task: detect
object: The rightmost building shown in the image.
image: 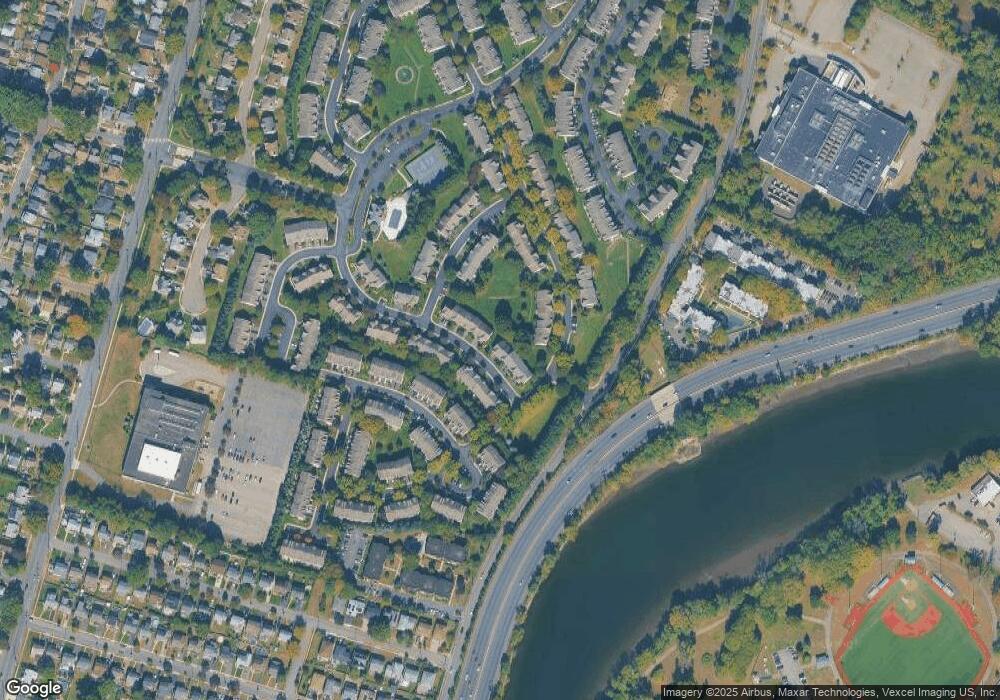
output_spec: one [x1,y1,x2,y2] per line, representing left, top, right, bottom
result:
[972,474,1000,506]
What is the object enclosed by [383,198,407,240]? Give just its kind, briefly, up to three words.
swimming pool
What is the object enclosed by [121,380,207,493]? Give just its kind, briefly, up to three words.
building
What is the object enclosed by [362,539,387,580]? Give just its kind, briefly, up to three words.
building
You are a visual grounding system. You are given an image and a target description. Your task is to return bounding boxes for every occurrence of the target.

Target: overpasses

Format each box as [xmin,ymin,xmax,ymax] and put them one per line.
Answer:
[653,381,682,426]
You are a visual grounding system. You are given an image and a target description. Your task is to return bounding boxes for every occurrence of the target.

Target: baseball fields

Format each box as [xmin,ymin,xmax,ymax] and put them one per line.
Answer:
[835,564,991,700]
